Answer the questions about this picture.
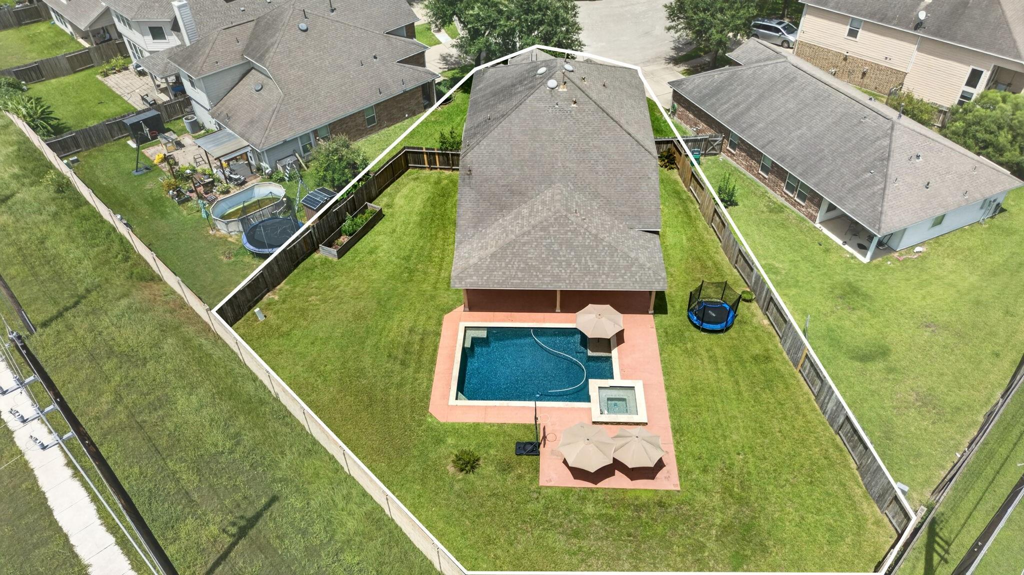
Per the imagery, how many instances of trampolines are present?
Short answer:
2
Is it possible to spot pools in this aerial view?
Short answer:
Yes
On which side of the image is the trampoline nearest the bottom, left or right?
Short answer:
right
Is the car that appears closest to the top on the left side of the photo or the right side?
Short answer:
right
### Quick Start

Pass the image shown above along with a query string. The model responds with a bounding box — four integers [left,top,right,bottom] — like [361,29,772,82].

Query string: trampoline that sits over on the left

[235,200,301,258]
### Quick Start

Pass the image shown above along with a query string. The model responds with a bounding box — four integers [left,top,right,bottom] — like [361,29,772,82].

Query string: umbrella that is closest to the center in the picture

[576,304,625,348]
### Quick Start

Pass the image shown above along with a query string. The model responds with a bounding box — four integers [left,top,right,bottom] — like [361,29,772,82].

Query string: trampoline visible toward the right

[687,281,741,340]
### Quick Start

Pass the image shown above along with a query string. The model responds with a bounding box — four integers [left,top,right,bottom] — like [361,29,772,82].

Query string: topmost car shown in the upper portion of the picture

[751,15,798,45]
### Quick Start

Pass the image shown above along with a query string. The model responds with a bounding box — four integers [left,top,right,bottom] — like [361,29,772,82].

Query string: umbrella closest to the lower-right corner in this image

[610,425,664,468]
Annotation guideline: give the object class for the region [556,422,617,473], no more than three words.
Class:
umbrella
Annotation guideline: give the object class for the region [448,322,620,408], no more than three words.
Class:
swimming pool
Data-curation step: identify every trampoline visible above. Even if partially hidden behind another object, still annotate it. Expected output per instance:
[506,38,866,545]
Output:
[235,200,301,258]
[687,281,741,340]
